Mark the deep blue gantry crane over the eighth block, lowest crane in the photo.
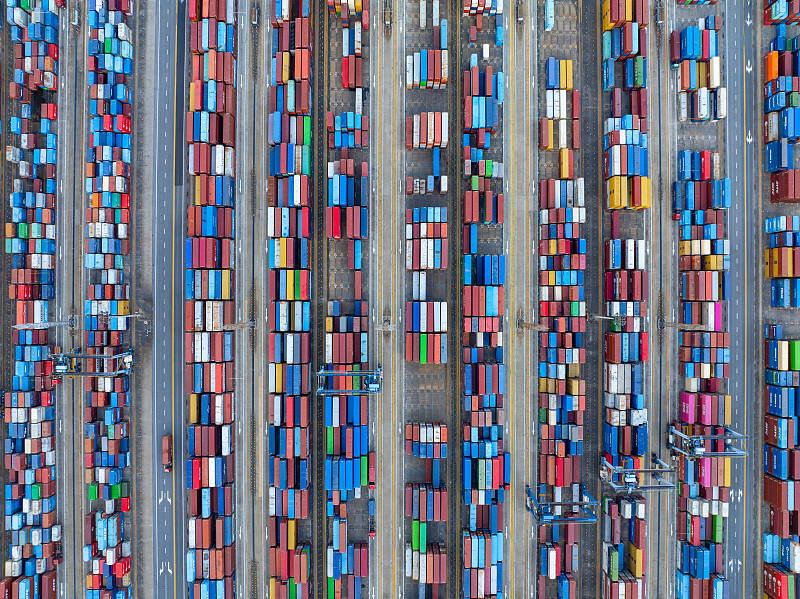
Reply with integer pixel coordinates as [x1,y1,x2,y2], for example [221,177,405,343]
[526,482,601,526]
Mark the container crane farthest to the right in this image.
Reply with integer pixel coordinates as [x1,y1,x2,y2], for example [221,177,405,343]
[668,424,756,462]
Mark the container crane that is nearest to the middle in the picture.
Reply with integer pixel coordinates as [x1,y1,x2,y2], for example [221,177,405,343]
[314,363,384,394]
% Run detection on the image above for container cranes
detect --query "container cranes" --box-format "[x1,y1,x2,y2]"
[600,454,678,493]
[668,424,756,462]
[526,482,601,526]
[314,363,384,394]
[50,347,134,379]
